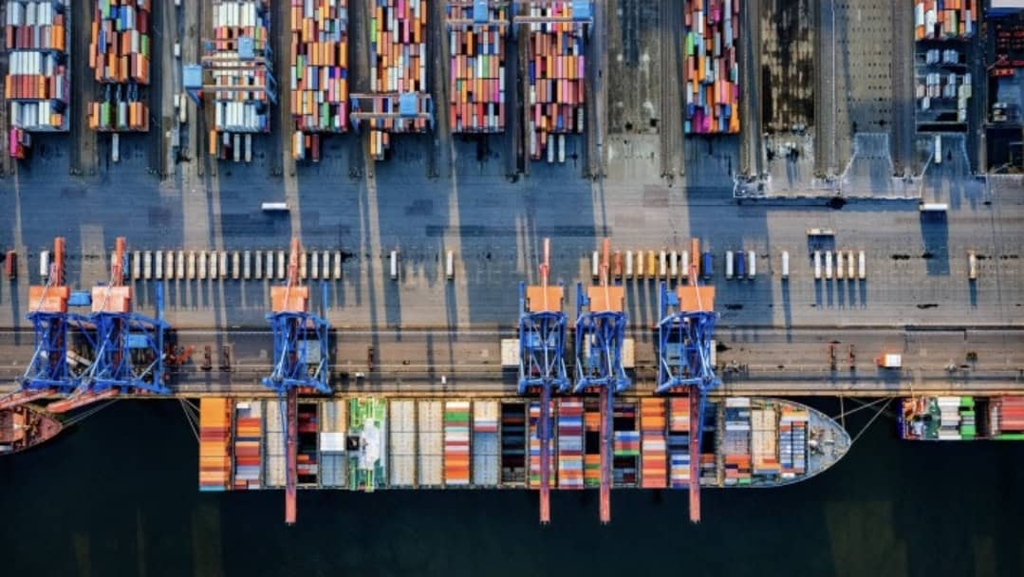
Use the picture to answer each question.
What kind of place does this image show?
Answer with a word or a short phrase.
port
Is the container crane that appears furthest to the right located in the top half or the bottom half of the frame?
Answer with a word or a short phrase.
bottom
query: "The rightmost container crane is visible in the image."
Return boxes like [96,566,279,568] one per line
[650,240,719,524]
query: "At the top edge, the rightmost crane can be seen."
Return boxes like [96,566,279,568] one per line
[514,0,594,33]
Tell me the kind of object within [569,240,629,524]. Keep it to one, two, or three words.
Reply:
container crane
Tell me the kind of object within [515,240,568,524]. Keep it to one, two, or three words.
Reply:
container crane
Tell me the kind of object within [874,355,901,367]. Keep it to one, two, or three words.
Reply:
vehicle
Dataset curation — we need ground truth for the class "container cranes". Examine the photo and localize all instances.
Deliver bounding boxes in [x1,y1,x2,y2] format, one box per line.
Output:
[514,0,594,33]
[202,41,280,71]
[650,240,719,524]
[0,240,117,419]
[446,1,512,34]
[39,240,181,425]
[265,240,337,524]
[515,240,568,524]
[569,240,629,524]
[183,65,280,98]
[351,94,434,126]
